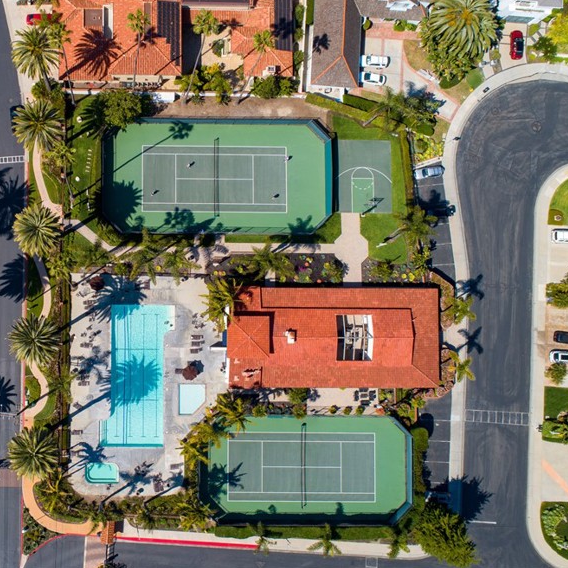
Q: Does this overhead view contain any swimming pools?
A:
Yes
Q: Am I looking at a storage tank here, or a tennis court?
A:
tennis court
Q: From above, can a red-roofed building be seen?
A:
Yes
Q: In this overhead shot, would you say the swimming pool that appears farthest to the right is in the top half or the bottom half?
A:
bottom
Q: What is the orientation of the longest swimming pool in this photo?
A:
from top to bottom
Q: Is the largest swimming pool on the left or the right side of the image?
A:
left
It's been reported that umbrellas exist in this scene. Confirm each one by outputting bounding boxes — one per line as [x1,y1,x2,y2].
[182,365,197,380]
[91,278,104,291]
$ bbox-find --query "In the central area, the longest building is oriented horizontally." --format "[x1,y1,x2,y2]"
[208,287,449,388]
